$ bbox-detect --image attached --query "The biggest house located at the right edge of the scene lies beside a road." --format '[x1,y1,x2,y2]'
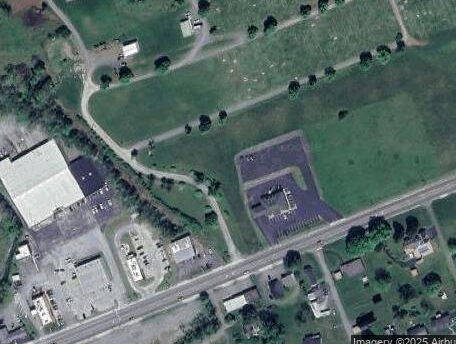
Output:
[403,228,438,258]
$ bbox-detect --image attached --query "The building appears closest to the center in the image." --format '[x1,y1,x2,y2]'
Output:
[267,190,293,218]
